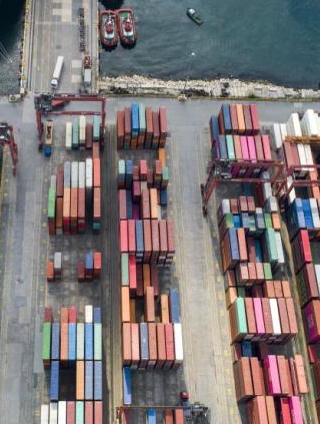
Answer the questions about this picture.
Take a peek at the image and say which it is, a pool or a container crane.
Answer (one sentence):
It is a container crane that can be seen here.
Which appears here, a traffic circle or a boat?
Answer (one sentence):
There is a boat in the scene.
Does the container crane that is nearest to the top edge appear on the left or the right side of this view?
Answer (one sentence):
The container crane that is nearest to the top edge sits on the left side.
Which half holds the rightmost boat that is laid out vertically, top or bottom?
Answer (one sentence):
You can find the rightmost boat that is laid out vertically in the top half.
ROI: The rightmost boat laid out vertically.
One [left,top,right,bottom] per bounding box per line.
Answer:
[117,9,138,49]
